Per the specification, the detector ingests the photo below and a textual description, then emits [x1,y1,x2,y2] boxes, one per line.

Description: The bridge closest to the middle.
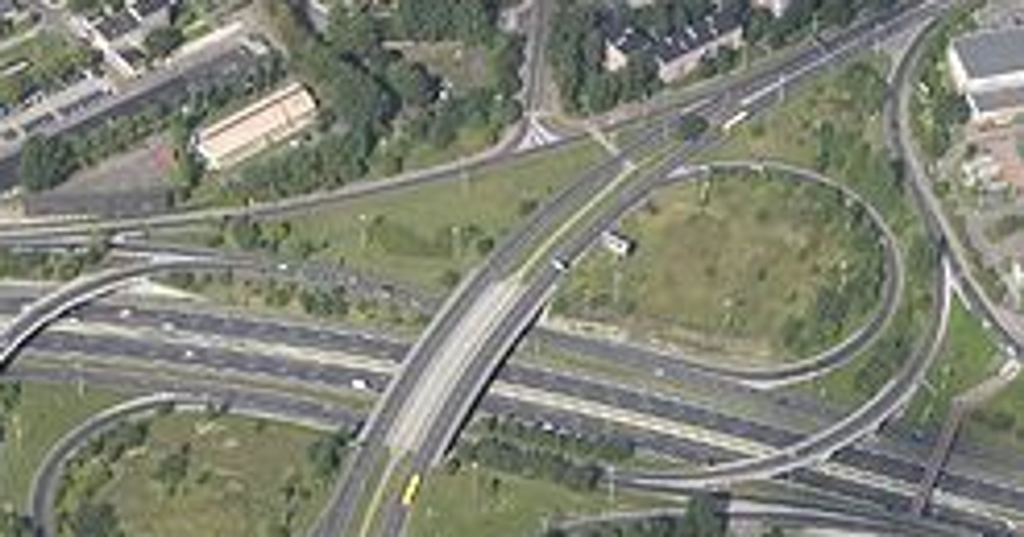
[359,278,547,451]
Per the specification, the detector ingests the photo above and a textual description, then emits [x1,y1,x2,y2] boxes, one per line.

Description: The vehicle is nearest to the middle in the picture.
[553,256,566,269]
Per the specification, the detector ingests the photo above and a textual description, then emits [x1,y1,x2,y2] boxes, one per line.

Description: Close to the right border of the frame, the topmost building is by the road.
[944,24,1024,99]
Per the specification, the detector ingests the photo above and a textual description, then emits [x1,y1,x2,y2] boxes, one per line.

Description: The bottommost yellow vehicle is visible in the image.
[402,470,422,505]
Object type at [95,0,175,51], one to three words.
house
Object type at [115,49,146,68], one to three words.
building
